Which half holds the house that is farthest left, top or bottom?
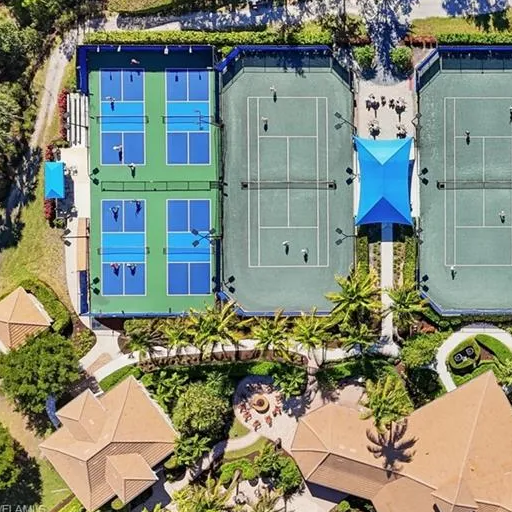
bottom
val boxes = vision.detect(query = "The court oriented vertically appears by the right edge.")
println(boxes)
[418,51,512,311]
